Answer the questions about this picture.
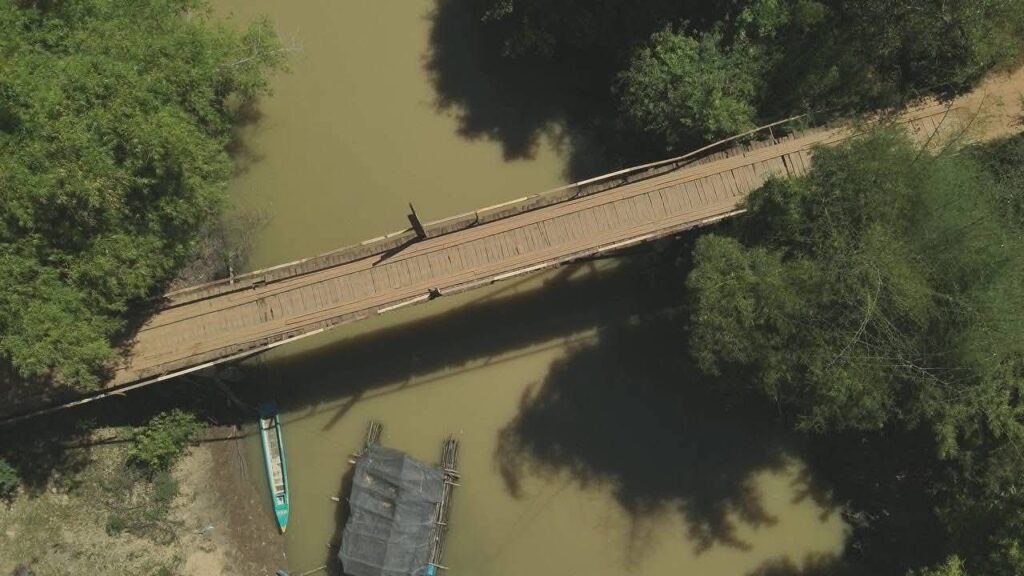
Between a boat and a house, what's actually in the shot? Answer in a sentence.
There is a boat in the scene.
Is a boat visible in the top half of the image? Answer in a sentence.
No, looking in the top half of the image, there is no boat.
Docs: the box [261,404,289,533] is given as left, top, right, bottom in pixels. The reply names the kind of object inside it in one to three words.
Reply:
boat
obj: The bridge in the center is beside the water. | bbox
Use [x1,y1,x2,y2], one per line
[0,95,963,422]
